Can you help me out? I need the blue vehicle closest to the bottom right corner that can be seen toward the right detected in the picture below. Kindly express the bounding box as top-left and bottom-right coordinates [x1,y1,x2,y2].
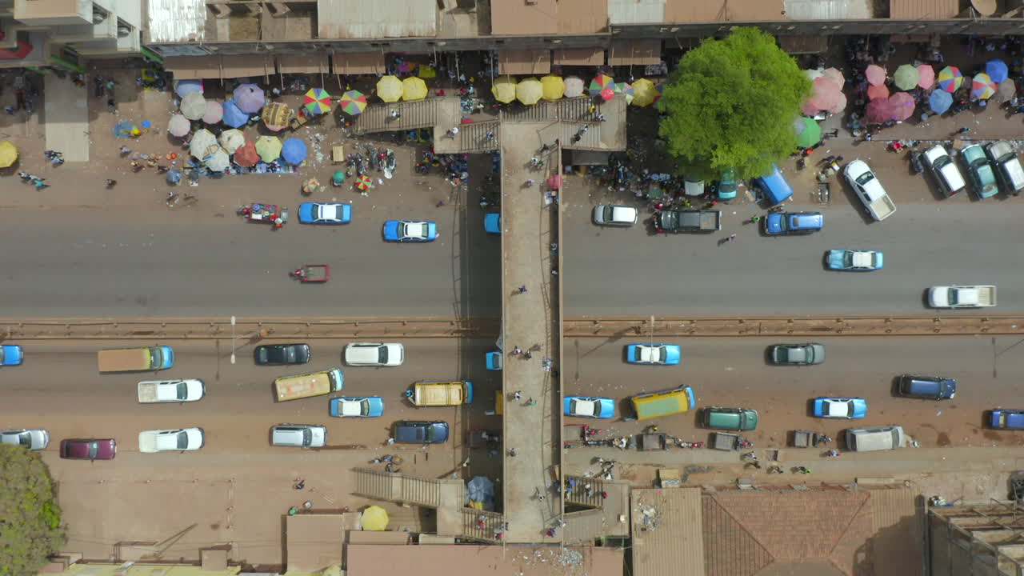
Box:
[985,407,1024,429]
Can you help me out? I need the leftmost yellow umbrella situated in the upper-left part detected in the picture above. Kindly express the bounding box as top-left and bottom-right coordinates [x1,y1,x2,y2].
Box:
[0,141,30,167]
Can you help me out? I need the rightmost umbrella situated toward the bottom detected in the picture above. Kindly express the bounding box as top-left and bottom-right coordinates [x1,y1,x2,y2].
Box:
[466,475,494,503]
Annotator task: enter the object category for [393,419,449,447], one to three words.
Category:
car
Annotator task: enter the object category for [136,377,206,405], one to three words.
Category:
truck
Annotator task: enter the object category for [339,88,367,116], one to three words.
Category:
umbrella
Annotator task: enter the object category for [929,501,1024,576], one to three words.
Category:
building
